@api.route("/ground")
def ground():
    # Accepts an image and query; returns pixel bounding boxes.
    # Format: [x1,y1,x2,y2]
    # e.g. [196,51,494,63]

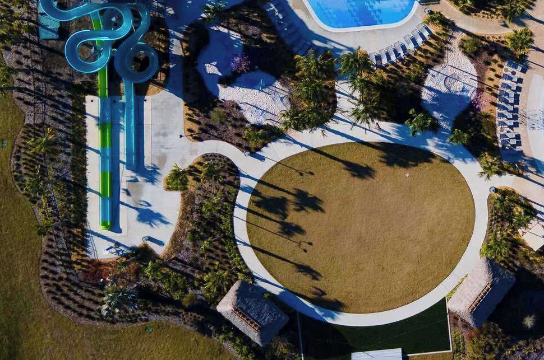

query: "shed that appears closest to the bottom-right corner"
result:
[448,260,515,328]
